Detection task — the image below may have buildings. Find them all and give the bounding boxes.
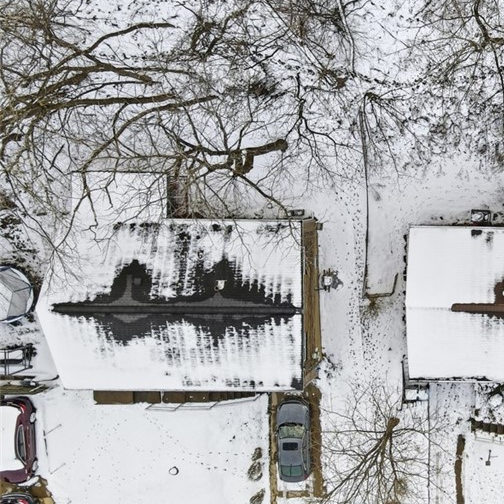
[404,225,504,403]
[36,173,319,393]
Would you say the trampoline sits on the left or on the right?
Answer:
left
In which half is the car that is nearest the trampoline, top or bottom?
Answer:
bottom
